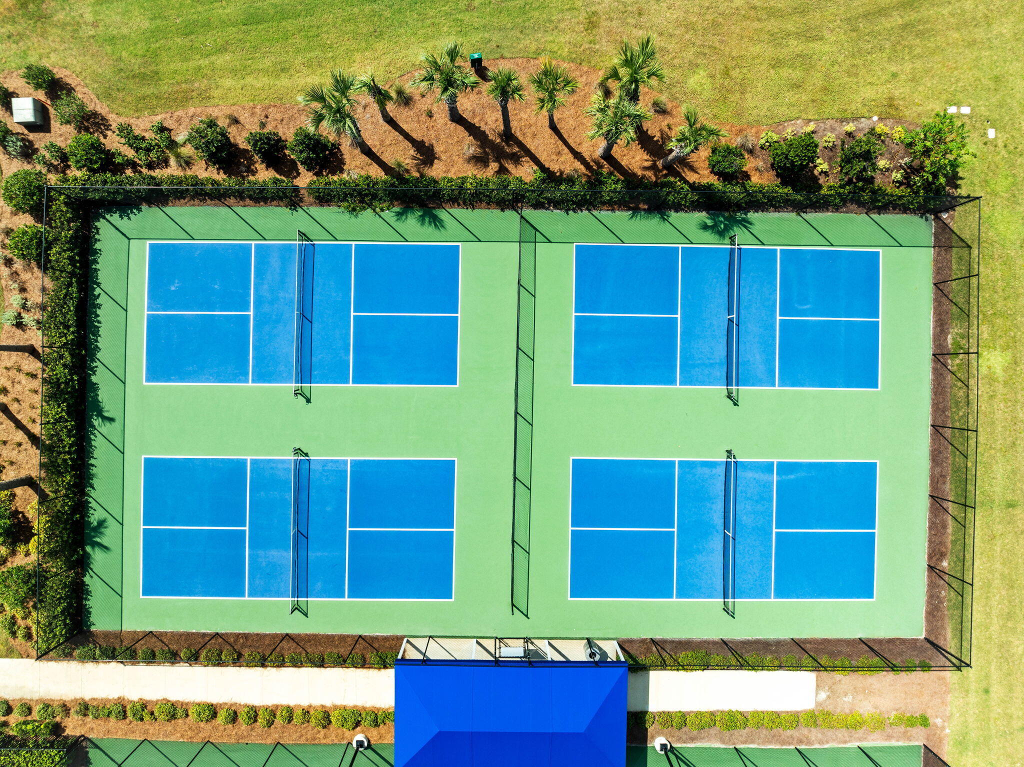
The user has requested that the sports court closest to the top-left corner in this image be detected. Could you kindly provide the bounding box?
[145,241,459,386]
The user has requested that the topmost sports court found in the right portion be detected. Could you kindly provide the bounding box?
[573,244,882,390]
